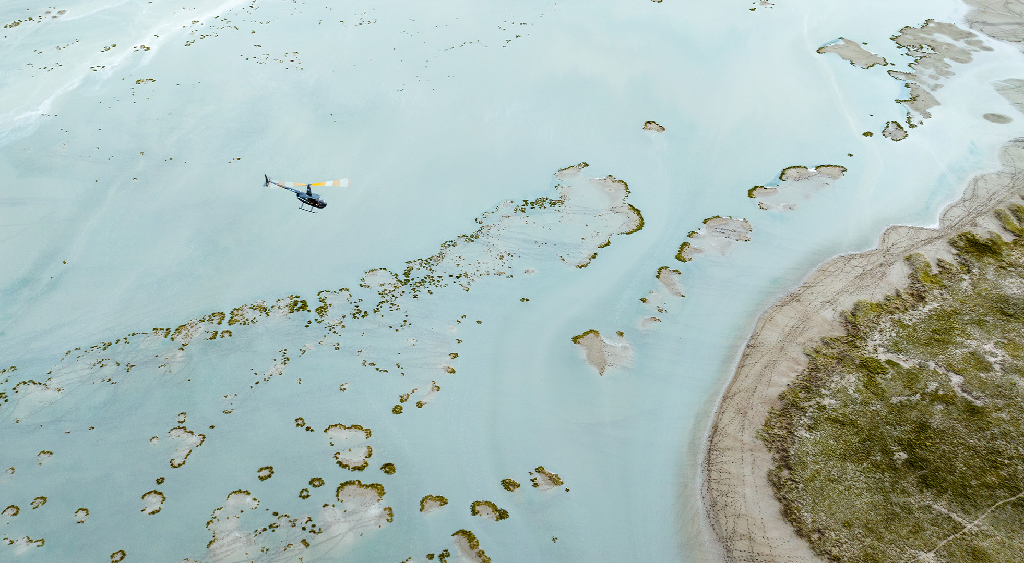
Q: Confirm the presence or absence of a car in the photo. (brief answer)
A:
No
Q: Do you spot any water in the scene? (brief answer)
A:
Yes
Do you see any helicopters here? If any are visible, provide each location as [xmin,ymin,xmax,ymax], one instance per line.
[264,172,351,215]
